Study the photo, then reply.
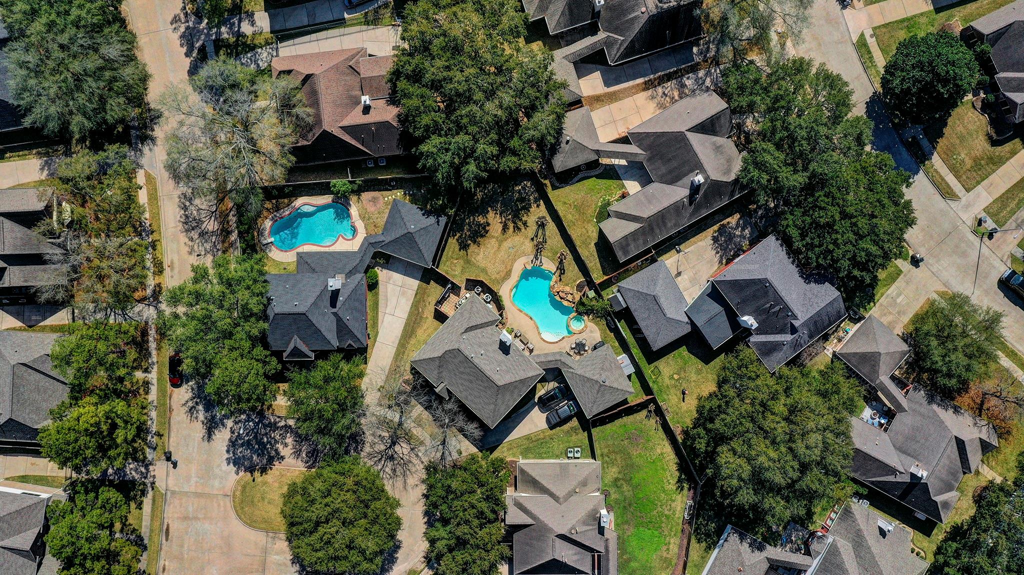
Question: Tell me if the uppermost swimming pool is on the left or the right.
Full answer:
The uppermost swimming pool sits on the left side.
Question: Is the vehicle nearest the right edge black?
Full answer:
Yes, the vehicle nearest the right edge is indeed black.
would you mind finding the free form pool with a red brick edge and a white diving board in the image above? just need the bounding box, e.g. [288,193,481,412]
[268,200,360,253]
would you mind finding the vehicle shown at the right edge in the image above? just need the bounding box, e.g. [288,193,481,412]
[1004,270,1024,292]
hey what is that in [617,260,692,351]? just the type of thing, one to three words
building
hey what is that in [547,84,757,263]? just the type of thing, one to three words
house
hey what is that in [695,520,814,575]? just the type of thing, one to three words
house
